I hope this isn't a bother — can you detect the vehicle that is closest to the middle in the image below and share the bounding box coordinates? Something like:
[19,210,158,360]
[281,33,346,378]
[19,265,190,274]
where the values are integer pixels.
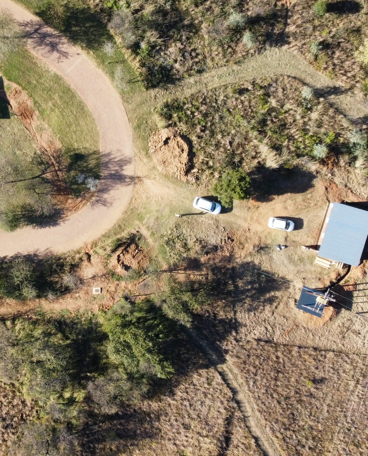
[193,195,221,215]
